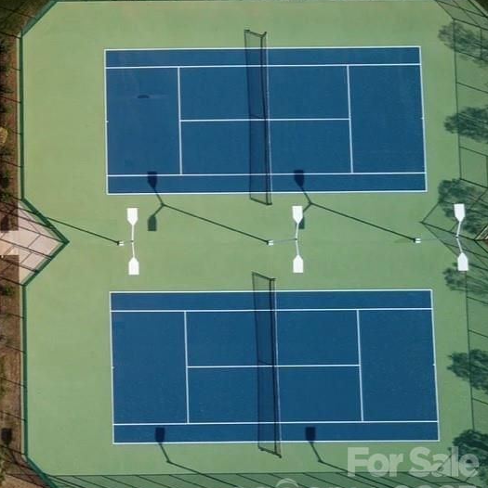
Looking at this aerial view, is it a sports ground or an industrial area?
sports ground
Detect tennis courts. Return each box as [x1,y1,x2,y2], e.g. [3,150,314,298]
[111,291,438,443]
[105,46,427,194]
